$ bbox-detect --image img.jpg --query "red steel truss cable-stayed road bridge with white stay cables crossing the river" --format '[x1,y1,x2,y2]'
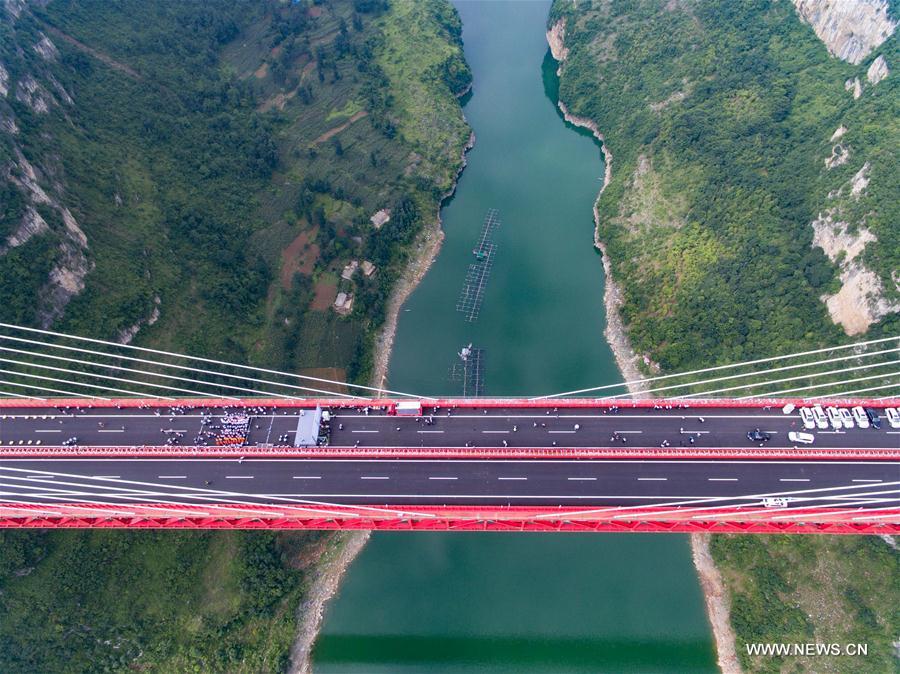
[0,323,900,533]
